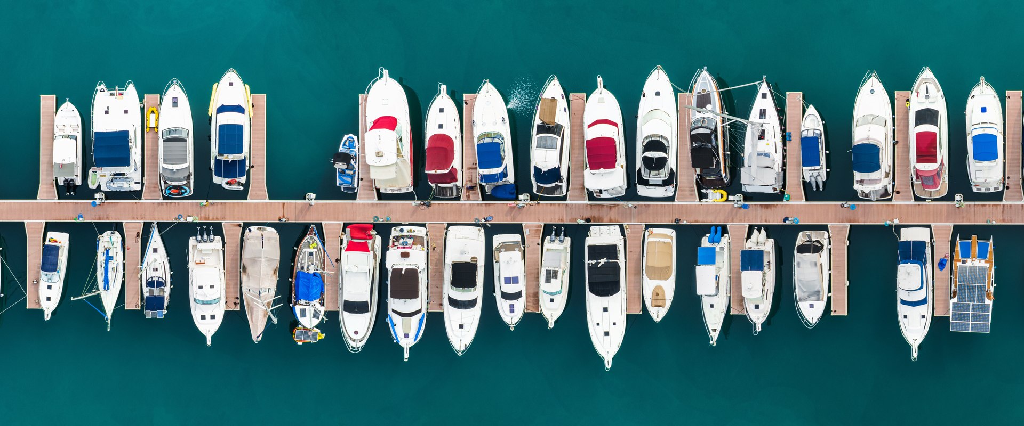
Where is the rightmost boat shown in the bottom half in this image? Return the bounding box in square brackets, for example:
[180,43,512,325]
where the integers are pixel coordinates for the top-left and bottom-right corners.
[950,233,996,333]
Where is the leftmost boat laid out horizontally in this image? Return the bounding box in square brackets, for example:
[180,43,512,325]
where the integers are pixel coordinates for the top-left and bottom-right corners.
[105,177,136,191]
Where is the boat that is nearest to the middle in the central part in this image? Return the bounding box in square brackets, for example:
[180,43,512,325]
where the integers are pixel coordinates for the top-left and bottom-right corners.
[492,184,516,199]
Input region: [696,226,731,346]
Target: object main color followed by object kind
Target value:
white boat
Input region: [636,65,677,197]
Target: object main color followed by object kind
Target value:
white boat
